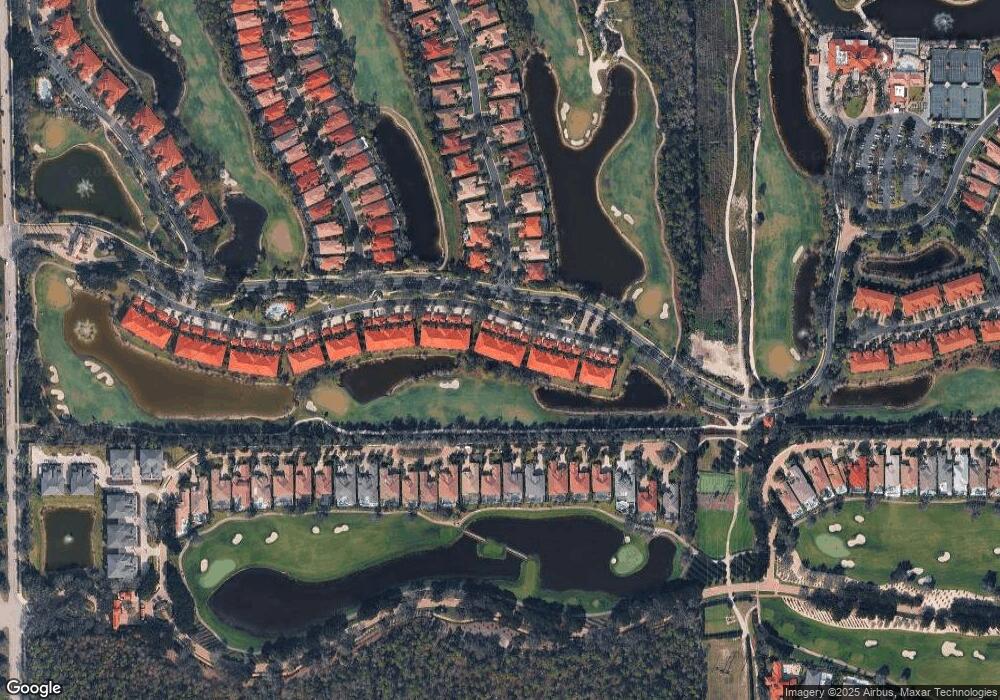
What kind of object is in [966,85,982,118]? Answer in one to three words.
tennis court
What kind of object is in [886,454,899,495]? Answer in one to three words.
house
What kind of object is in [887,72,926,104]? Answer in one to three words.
building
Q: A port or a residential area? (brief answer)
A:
residential area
